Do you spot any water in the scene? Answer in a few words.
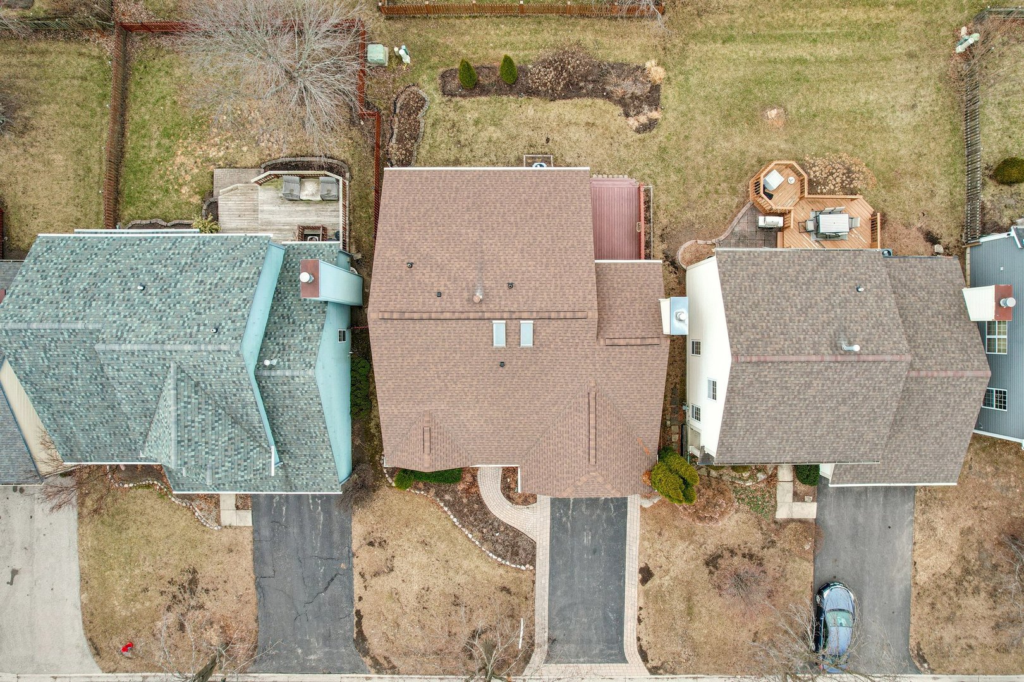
No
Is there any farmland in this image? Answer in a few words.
No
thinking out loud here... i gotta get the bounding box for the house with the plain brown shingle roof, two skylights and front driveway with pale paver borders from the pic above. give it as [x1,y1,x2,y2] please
[369,165,689,500]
